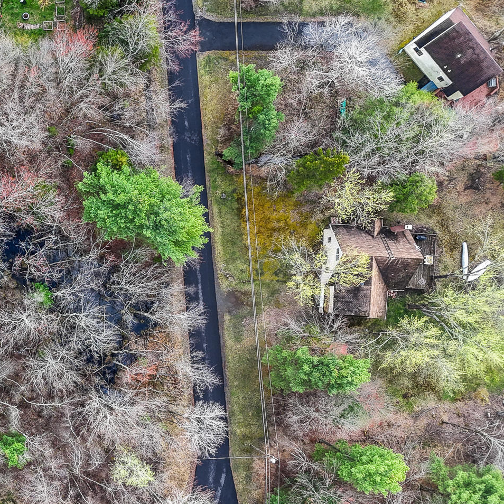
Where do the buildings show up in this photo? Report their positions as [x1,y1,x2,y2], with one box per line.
[317,222,441,320]
[405,6,504,108]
